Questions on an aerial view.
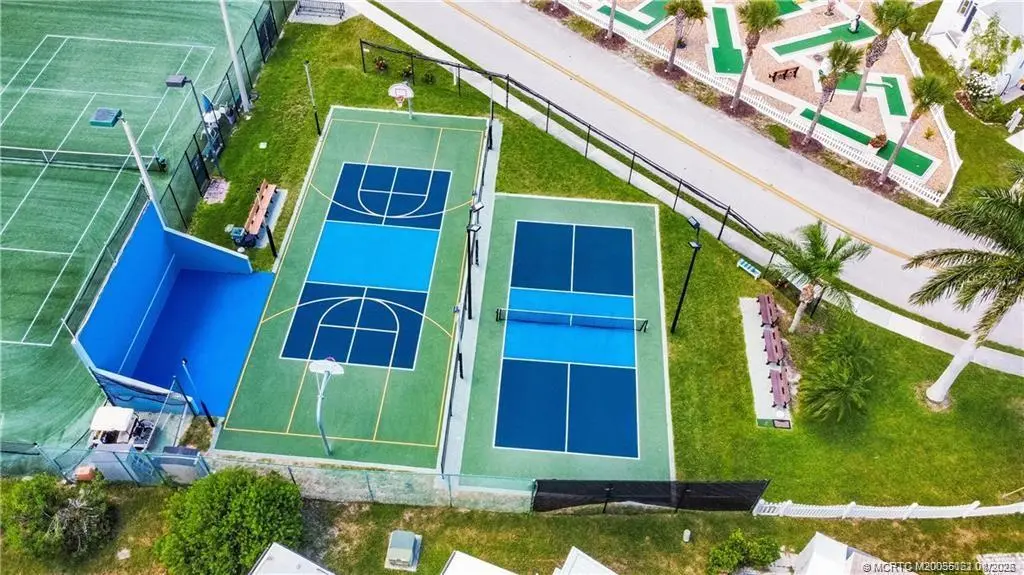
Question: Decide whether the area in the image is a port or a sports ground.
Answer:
sports ground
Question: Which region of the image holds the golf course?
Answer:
top right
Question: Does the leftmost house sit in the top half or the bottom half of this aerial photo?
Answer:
bottom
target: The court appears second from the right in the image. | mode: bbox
[205,106,487,470]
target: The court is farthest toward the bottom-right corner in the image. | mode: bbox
[459,192,676,482]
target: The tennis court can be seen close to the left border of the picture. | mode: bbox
[0,0,290,486]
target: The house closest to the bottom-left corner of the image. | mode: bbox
[253,539,341,575]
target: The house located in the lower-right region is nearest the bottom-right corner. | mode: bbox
[795,532,866,575]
